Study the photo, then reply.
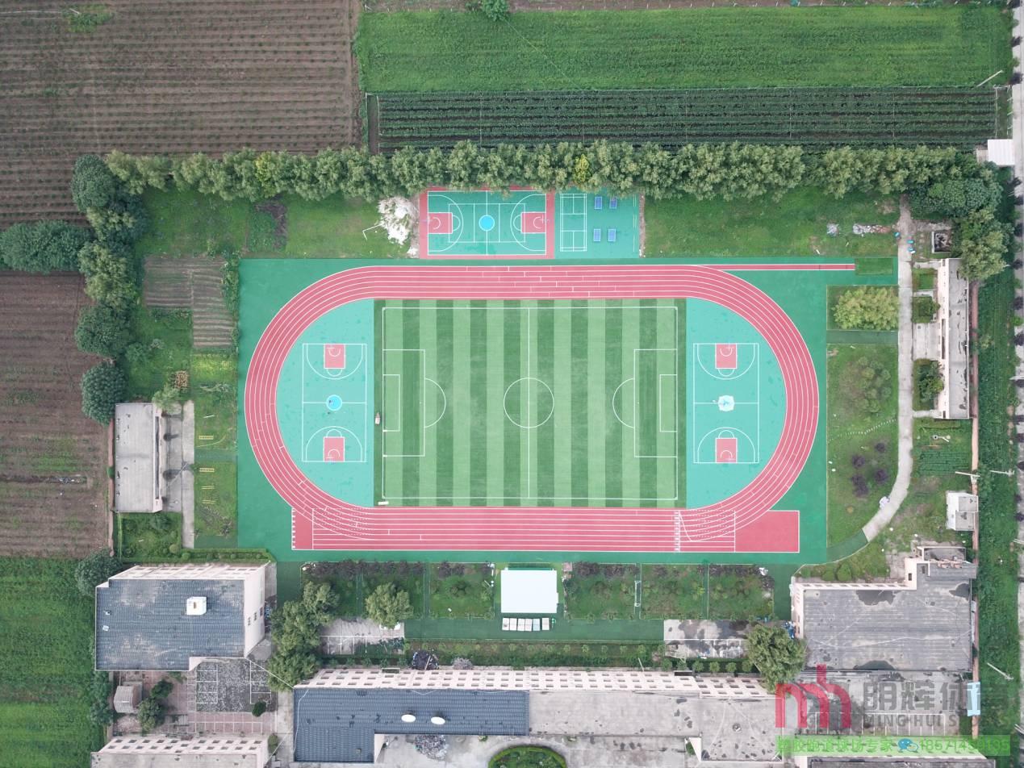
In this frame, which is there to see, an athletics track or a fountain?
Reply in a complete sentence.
There is an athletics track in the scene.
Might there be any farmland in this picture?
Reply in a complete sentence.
Yes, there's farmland in this view.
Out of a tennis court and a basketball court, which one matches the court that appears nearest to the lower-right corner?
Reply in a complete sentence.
The court that appears nearest to the lower-right corner appears to be a basketball court.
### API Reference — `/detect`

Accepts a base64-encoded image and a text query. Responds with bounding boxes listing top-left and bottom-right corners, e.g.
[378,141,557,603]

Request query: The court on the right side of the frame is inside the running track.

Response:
[693,343,759,463]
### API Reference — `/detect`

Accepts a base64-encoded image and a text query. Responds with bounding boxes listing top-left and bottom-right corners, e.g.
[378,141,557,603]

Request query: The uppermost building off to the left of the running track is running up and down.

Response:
[115,402,164,512]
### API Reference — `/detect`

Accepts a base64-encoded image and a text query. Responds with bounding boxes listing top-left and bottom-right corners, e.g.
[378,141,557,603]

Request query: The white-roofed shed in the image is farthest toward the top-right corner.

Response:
[972,139,1015,170]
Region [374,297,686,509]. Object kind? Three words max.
soccer field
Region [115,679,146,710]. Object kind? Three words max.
shed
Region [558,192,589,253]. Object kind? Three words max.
sports court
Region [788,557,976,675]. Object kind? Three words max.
building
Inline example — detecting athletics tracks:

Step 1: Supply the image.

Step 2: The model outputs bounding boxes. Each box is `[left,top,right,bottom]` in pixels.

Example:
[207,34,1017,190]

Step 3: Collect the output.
[245,263,855,553]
